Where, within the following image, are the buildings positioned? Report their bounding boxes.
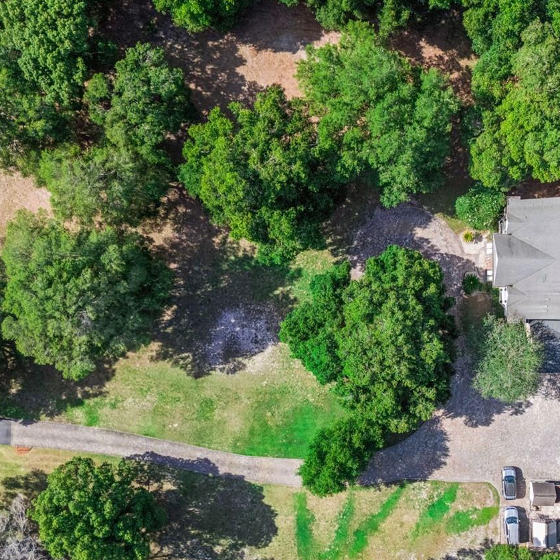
[531,517,556,549]
[484,196,560,372]
[529,480,556,506]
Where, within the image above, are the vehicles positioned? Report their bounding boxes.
[501,466,517,498]
[503,506,519,545]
